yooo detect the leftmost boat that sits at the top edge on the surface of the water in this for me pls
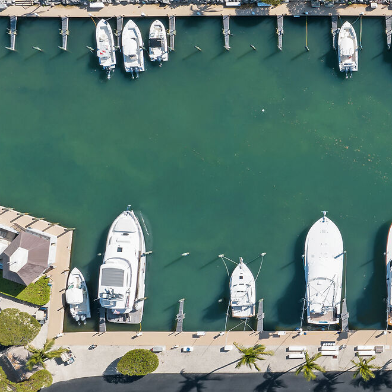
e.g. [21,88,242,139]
[97,19,119,74]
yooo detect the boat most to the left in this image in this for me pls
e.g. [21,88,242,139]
[66,268,92,327]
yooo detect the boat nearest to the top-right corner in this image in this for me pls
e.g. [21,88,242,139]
[337,21,360,79]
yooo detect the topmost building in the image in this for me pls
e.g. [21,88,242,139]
[3,233,59,286]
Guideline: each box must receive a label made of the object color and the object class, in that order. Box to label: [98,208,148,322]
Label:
white boat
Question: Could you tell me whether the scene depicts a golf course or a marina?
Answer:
marina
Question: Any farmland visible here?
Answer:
No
